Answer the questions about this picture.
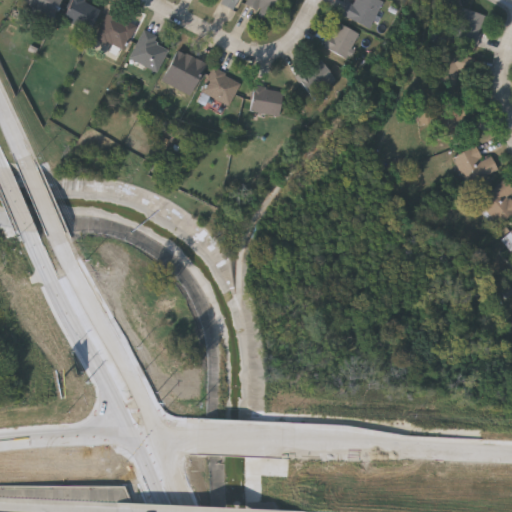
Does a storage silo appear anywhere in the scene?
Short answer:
No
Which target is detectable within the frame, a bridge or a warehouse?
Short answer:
bridge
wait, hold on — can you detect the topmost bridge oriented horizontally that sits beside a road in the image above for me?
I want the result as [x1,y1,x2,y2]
[192,418,266,456]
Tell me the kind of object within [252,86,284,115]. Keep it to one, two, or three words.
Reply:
house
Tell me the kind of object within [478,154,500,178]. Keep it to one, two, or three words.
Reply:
house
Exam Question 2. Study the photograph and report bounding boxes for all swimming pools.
[361,36,372,47]
[377,22,388,34]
